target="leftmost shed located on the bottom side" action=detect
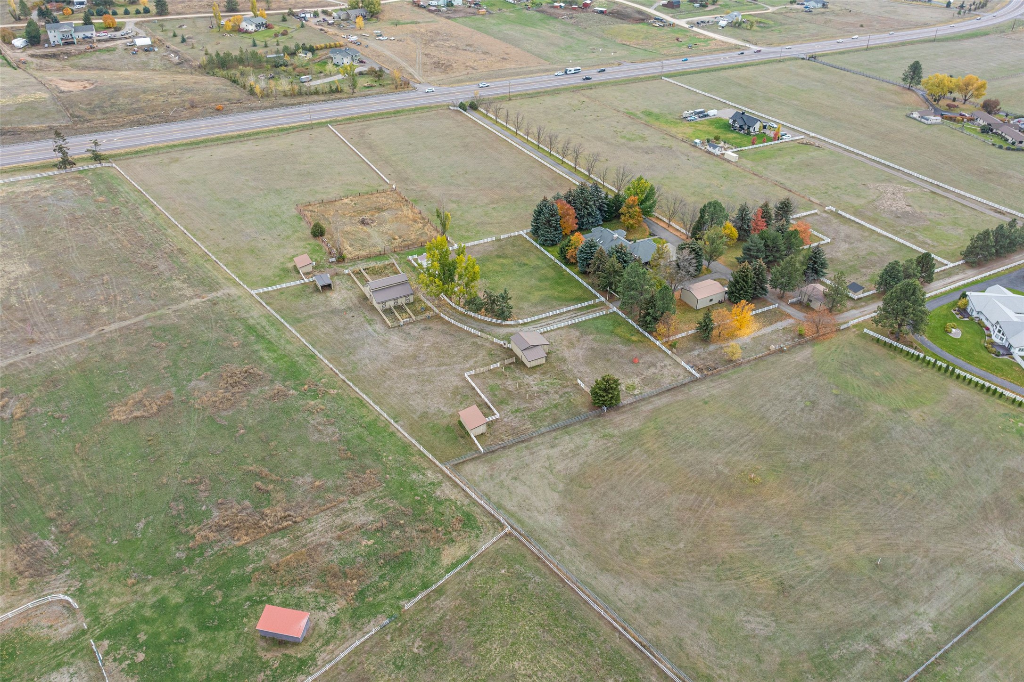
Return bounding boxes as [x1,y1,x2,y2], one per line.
[255,605,309,643]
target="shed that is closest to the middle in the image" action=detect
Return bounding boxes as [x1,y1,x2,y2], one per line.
[508,330,552,367]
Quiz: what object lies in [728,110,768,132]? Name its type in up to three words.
house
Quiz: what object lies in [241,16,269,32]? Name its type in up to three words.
house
